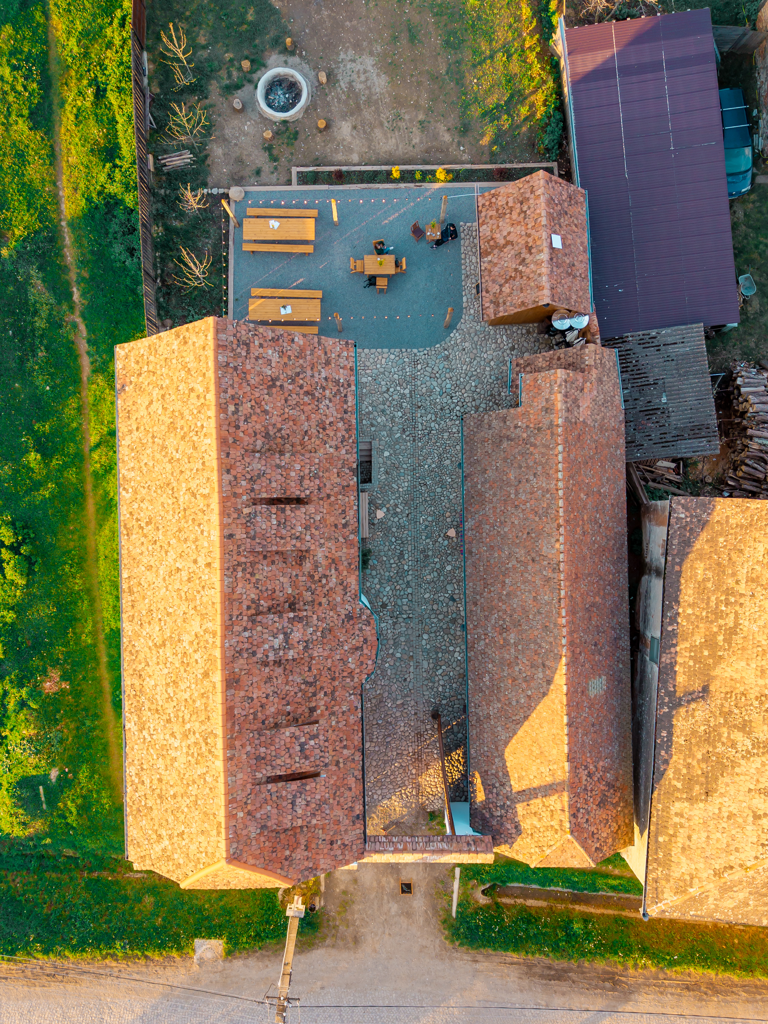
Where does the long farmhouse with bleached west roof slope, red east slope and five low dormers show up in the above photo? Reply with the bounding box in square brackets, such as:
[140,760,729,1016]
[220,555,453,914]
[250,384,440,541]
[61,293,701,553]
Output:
[114,316,382,894]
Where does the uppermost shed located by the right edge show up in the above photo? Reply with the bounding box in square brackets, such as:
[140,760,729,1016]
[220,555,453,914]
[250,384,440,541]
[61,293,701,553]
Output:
[552,5,740,343]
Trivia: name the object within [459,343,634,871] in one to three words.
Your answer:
house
